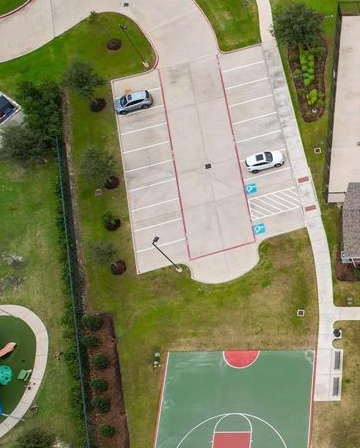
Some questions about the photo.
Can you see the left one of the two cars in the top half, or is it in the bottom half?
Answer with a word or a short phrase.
top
